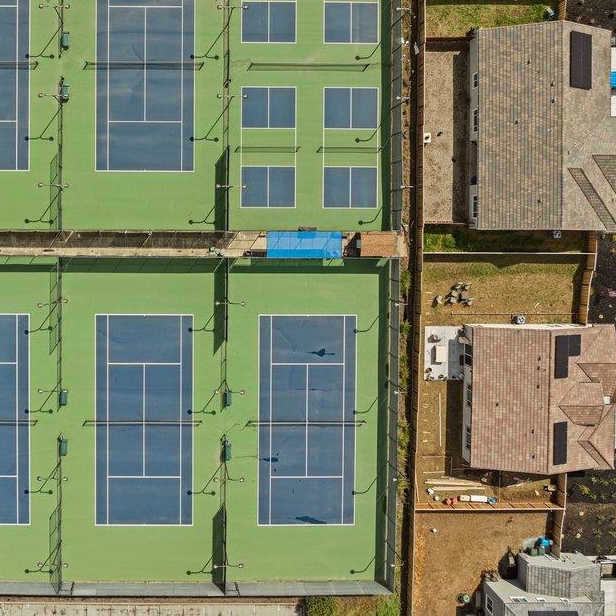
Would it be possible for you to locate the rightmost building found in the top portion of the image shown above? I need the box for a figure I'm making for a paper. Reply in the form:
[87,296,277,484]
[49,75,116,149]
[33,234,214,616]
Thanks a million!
[470,20,616,231]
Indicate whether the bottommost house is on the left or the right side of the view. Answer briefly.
right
